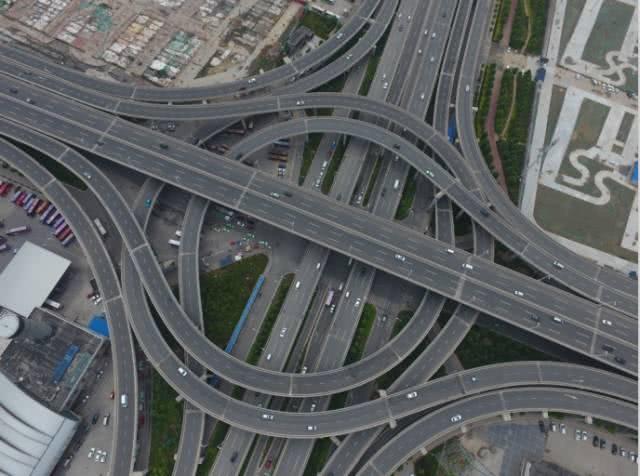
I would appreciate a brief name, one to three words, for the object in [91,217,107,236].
vehicle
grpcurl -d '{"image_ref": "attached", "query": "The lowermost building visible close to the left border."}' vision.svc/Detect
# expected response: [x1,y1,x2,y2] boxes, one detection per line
[0,374,89,476]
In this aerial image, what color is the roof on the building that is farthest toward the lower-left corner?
white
